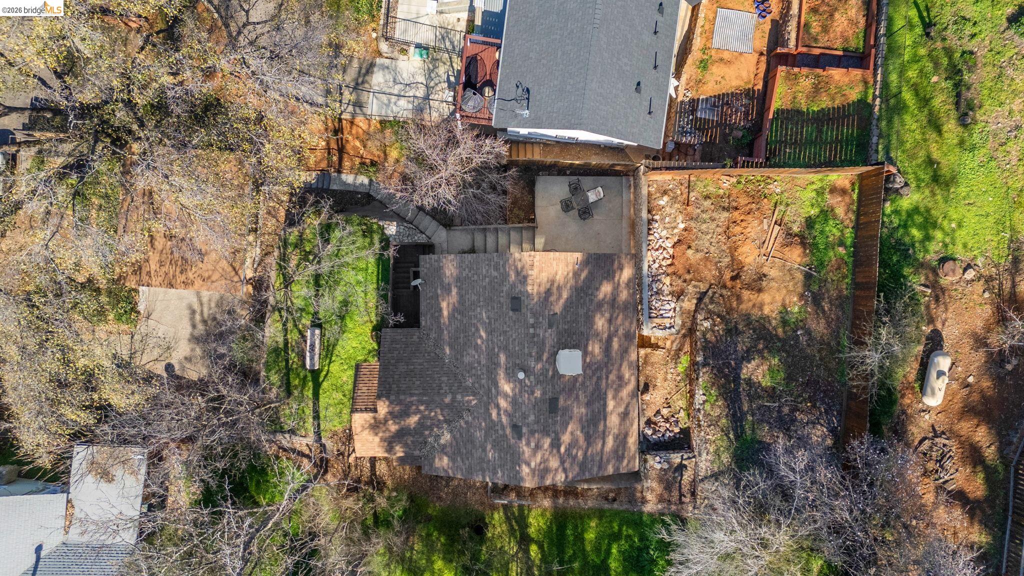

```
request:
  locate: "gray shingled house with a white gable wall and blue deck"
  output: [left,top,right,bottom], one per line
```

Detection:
[493,0,684,151]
